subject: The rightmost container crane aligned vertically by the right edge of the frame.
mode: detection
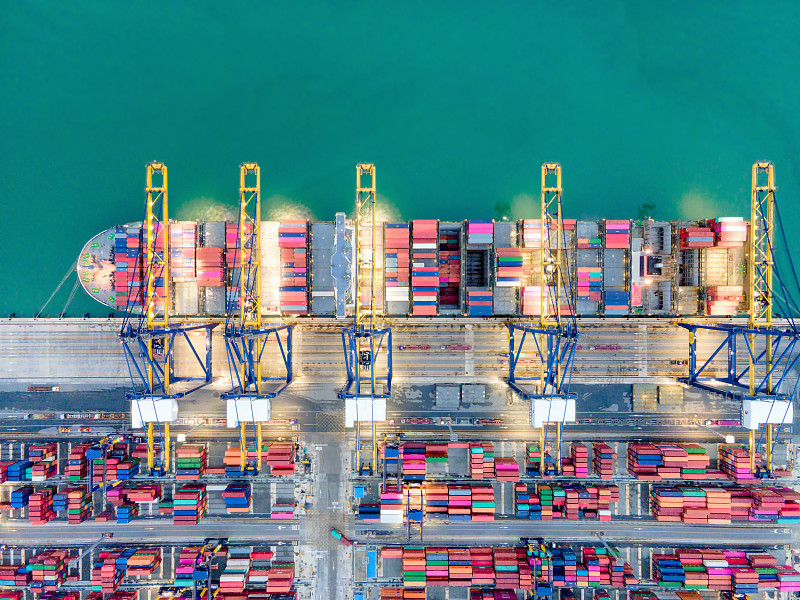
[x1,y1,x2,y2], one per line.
[674,162,800,477]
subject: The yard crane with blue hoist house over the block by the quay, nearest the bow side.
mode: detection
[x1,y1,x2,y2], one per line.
[92,433,135,493]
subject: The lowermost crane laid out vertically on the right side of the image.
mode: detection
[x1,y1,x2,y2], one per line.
[520,538,550,600]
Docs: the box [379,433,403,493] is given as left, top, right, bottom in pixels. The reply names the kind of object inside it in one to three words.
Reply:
crane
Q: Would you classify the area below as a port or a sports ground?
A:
port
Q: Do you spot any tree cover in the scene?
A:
No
